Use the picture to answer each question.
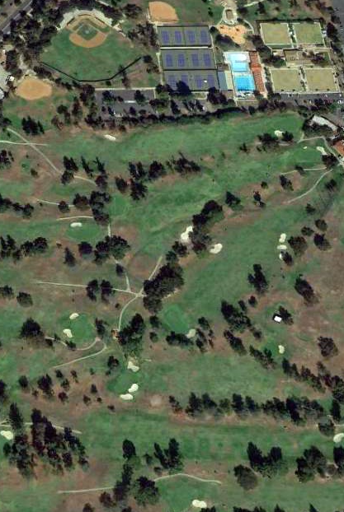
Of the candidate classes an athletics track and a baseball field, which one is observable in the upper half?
baseball field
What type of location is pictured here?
golf course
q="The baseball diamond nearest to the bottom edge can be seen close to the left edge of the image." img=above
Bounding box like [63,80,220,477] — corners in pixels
[17,73,53,99]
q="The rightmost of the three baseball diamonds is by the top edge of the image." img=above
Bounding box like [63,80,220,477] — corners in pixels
[147,0,179,29]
